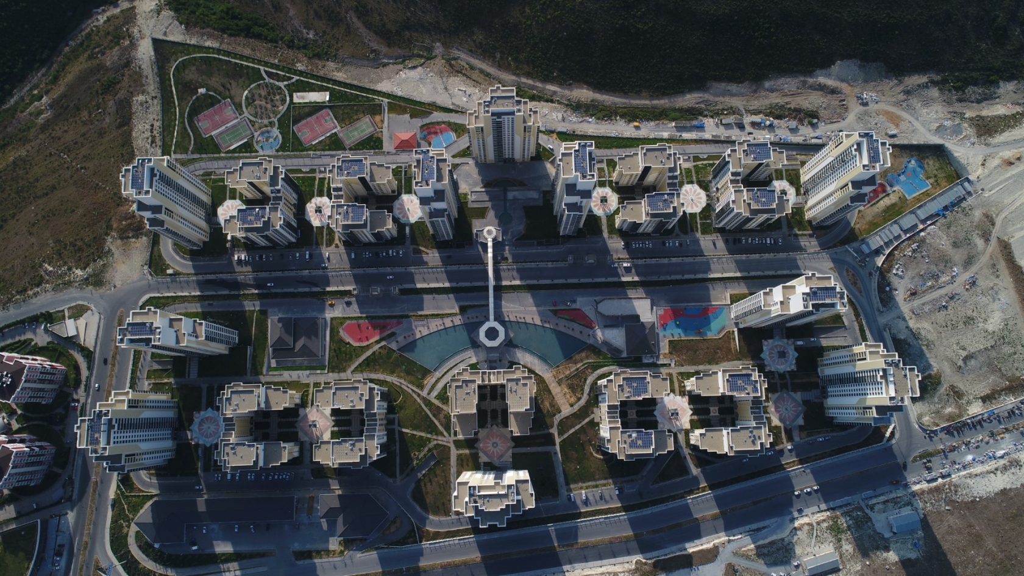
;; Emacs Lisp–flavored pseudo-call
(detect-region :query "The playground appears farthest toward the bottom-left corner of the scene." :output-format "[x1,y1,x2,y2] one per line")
[339,321,403,342]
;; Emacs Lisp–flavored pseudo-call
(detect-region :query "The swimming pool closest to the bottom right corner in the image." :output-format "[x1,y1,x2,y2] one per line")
[500,321,590,367]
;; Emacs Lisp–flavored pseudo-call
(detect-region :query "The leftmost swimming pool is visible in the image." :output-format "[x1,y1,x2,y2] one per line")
[396,320,486,370]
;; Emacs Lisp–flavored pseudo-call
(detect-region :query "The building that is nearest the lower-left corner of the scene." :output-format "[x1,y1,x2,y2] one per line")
[0,428,53,482]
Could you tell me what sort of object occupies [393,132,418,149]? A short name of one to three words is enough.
building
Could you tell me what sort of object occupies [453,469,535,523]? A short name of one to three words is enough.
building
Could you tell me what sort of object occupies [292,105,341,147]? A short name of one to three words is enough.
basketball court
